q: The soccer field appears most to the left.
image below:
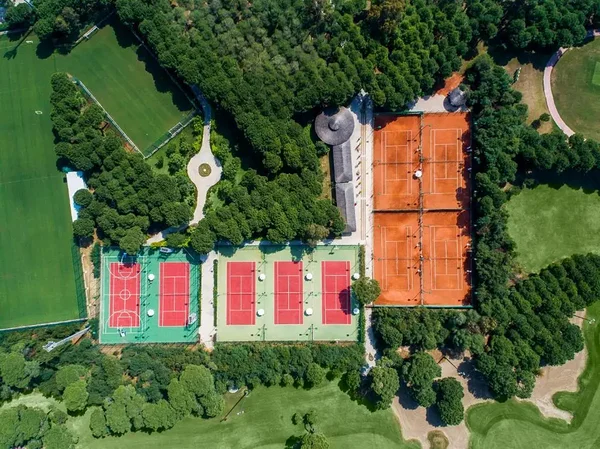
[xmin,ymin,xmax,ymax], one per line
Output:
[0,31,81,329]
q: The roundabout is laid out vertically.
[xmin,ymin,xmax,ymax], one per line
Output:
[187,129,223,222]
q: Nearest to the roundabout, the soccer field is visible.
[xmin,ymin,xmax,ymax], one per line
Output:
[60,15,196,155]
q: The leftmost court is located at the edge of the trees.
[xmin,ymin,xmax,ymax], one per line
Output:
[100,247,151,343]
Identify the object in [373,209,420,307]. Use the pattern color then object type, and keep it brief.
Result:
orange tennis court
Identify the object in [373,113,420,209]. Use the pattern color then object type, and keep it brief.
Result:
orange tennis court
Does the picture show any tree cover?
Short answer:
Yes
